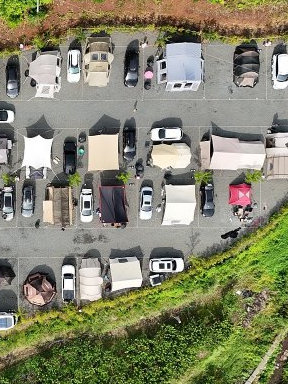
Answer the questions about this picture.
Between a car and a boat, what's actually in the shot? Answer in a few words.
car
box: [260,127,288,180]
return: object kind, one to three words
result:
tent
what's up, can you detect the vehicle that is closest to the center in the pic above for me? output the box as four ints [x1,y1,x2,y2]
[138,186,154,219]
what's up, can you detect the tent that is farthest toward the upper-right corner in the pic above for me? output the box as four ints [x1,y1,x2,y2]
[231,44,263,87]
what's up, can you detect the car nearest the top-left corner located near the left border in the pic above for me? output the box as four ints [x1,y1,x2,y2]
[5,64,20,98]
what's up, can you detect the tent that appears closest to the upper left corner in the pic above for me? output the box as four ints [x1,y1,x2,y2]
[23,54,60,100]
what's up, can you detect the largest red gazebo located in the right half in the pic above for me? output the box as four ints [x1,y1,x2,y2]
[228,184,251,204]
